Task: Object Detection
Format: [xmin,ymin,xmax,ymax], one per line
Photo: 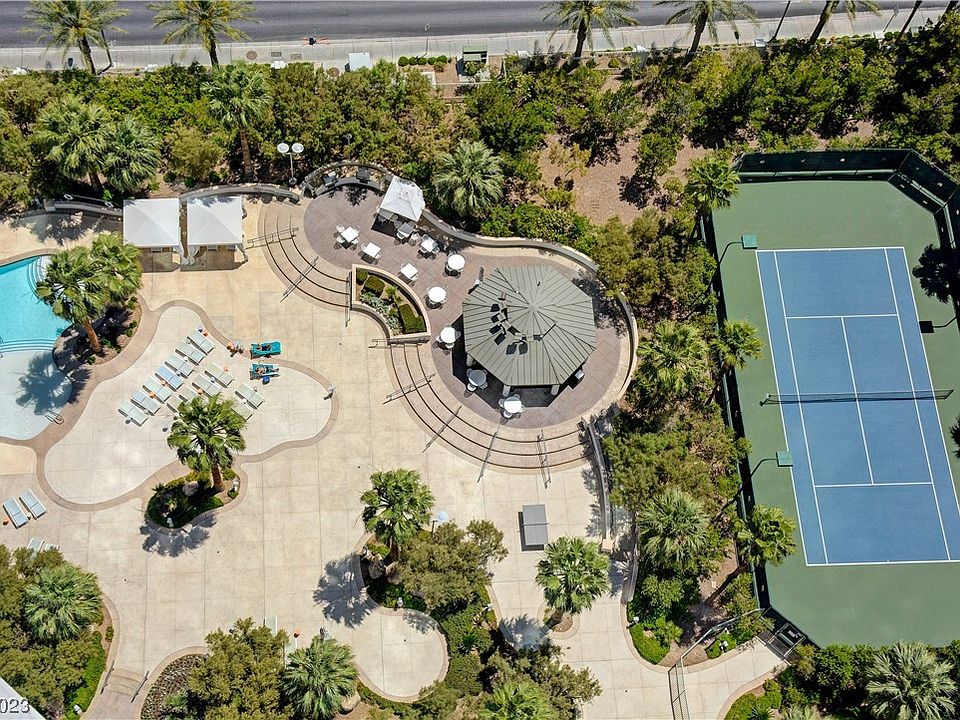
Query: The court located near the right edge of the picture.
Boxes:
[695,171,960,673]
